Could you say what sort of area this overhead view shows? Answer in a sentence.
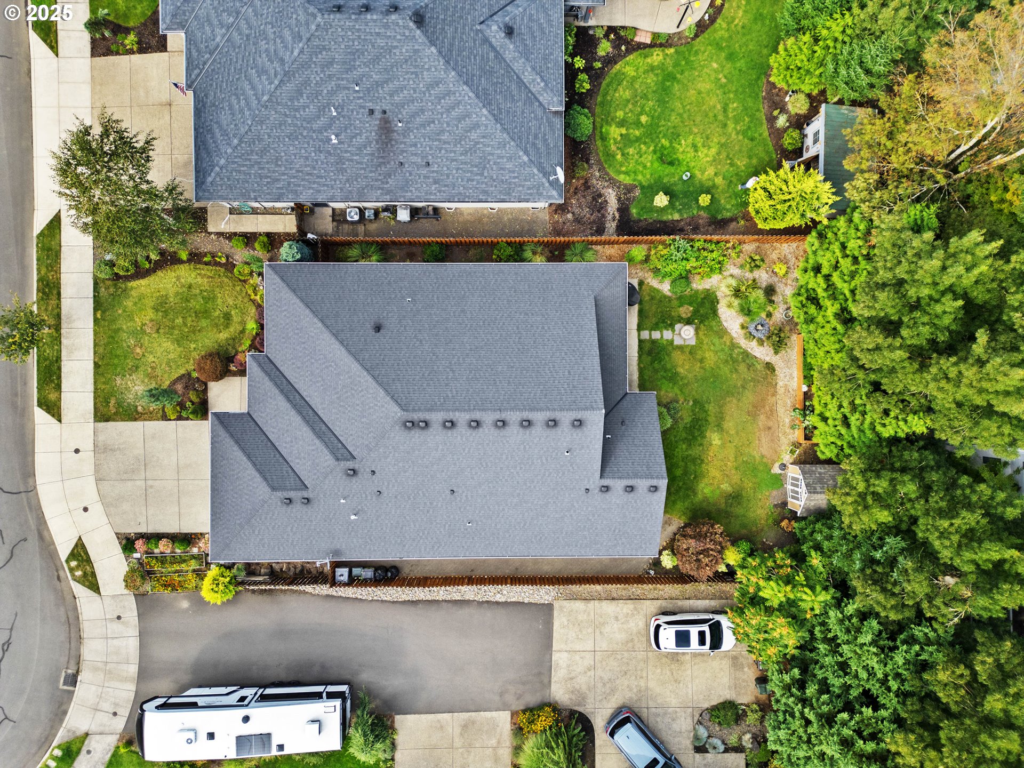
It's a residential area.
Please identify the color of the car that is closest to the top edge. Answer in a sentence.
The car that is closest to the top edge looks white in the image.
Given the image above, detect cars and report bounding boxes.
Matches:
[605,710,683,768]
[648,609,738,657]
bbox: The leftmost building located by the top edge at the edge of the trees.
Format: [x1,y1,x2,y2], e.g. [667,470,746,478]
[157,0,566,211]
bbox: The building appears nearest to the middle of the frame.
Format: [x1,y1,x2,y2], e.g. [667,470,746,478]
[207,261,668,564]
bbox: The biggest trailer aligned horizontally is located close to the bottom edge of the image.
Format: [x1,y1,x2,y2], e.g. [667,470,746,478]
[134,677,355,759]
